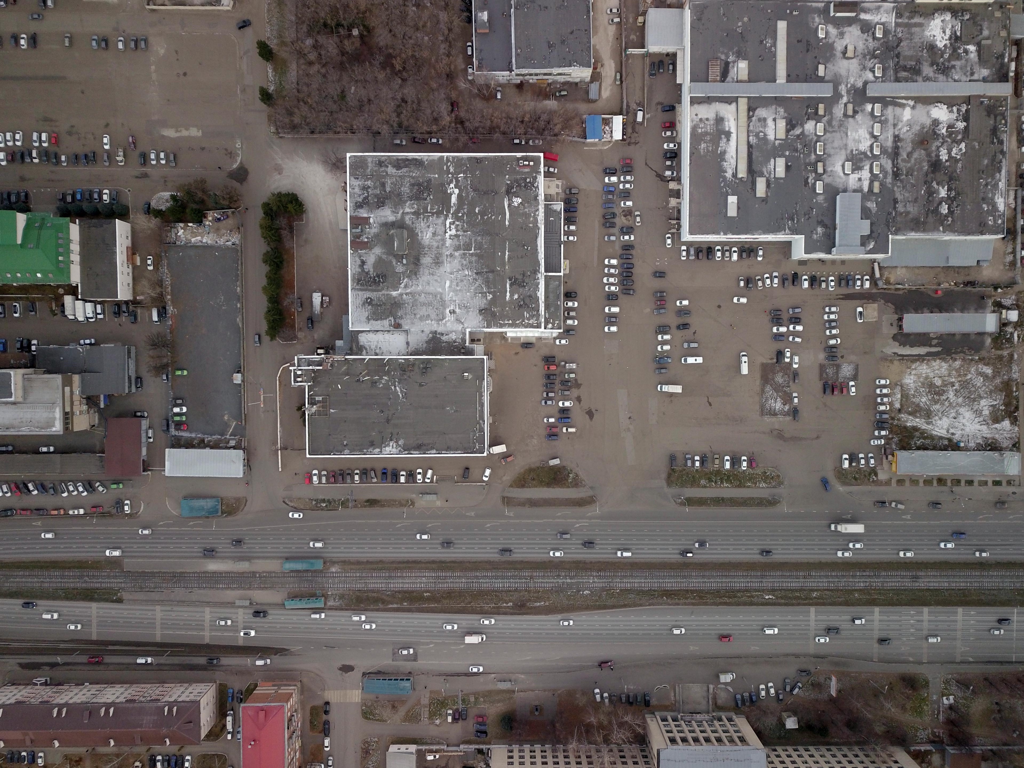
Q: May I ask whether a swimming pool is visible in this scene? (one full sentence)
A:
No, the frame has no swimming pool in it.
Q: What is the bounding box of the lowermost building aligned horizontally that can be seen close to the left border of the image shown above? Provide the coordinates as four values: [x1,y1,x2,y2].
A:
[0,684,218,749]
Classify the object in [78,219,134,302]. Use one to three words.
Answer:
building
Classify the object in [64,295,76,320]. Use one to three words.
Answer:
vehicle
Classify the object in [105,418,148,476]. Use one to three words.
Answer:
shed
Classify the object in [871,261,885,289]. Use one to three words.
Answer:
vehicle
